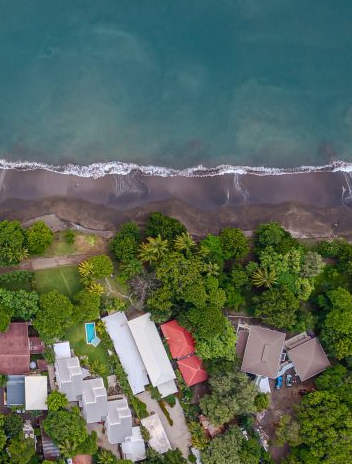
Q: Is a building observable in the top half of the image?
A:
No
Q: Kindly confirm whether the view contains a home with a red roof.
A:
Yes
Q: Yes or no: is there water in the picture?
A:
Yes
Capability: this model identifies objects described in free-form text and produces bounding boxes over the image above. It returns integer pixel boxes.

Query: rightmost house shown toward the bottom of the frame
[284,338,330,381]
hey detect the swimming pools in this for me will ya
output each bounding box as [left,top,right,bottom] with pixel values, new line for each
[85,323,101,347]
